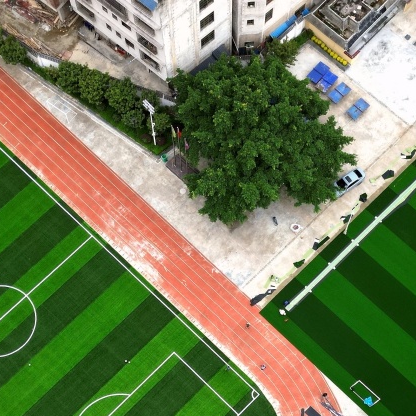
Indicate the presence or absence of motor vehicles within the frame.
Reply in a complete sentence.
Yes, there's a motor vehicle here.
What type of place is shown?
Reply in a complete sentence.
This image shows a sports ground.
